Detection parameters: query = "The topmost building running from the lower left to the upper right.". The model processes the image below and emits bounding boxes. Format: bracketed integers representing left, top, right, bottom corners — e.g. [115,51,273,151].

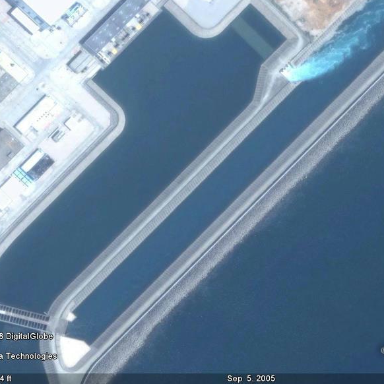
[83,0,150,56]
